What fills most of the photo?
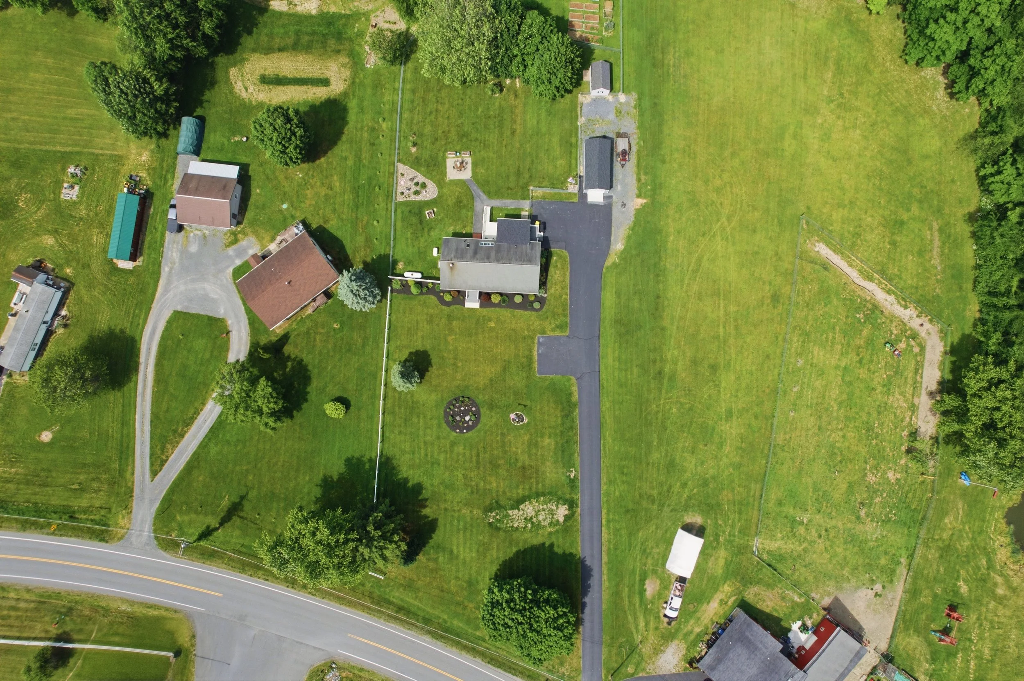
grass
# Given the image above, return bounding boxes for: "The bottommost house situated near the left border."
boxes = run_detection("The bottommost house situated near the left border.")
[0,281,66,373]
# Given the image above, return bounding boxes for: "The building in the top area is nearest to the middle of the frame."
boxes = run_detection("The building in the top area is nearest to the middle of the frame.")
[435,205,543,308]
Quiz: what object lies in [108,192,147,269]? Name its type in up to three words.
shed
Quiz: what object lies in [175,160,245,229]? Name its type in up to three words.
building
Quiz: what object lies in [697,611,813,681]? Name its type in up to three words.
barn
